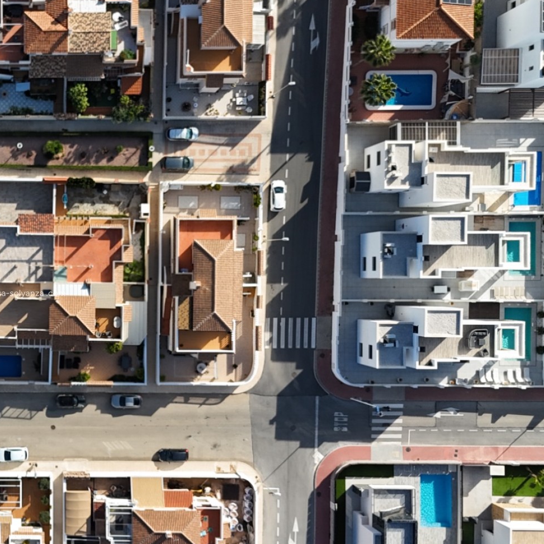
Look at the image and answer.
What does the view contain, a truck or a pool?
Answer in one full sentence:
The one in the frame is a pool.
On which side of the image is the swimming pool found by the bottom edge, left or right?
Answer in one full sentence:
The swimming pool found by the bottom edge sits on the right side.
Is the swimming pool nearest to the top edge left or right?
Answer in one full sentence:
The swimming pool nearest to the top edge sits on the right side.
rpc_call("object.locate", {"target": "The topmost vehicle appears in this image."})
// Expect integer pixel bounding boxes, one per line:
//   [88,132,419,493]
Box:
[167,126,198,142]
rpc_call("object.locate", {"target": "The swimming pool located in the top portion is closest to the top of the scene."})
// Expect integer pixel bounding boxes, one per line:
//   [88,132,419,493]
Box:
[366,69,437,109]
